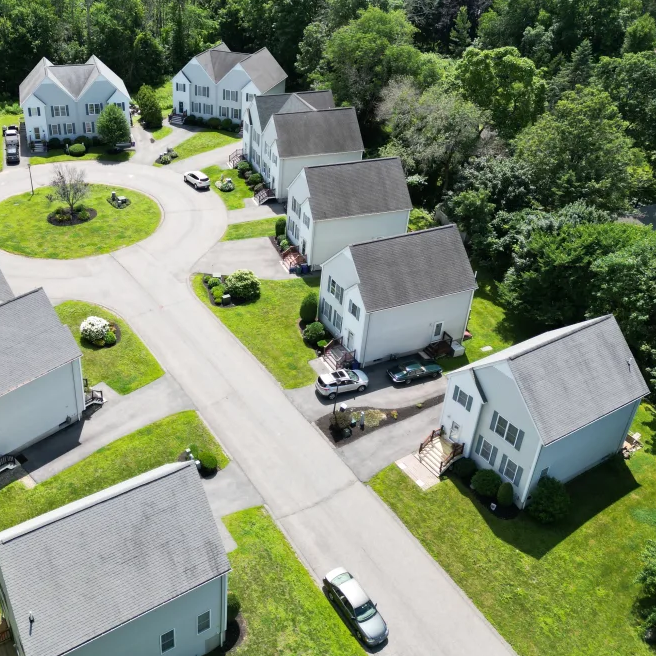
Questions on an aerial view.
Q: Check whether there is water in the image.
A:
No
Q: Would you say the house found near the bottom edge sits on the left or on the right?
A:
left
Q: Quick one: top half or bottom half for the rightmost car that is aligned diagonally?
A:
bottom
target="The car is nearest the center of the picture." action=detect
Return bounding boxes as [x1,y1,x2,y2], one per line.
[313,364,371,397]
